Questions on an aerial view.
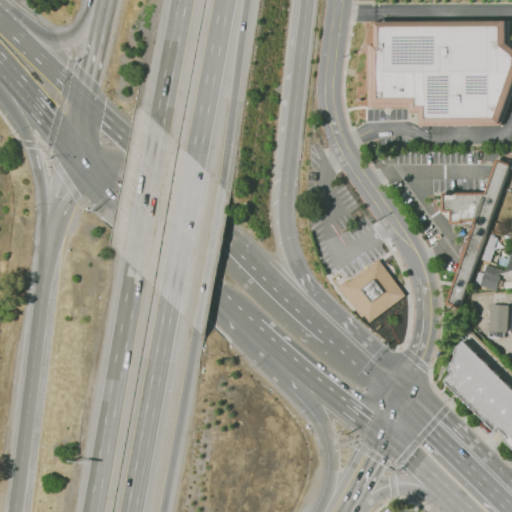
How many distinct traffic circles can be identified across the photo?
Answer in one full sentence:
There are no traffic circles in this view.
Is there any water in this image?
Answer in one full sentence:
No, there is no water in the image.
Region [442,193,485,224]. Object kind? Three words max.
building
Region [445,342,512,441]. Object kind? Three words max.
building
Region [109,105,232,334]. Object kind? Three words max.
overpass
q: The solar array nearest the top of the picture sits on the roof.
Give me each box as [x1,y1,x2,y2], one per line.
[392,36,434,64]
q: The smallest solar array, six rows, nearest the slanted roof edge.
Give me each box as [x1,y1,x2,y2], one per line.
[466,76,487,94]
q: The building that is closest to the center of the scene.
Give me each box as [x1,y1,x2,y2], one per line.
[340,260,406,322]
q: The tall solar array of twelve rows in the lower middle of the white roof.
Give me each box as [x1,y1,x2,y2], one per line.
[428,76,448,114]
